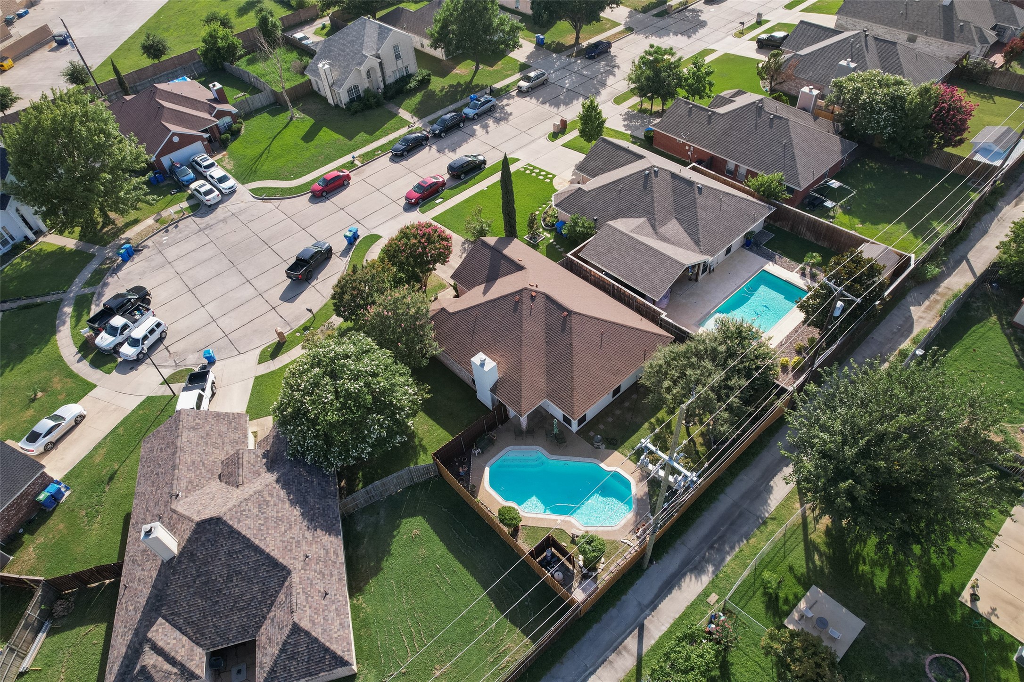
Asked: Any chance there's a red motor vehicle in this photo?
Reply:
Yes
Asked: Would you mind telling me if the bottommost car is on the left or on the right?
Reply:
left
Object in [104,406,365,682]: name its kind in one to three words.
house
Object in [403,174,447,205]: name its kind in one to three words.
car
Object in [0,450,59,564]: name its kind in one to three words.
house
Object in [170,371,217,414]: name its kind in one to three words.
truck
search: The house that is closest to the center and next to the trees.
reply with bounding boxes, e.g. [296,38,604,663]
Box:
[414,236,668,434]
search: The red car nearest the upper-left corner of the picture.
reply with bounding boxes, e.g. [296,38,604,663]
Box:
[308,168,353,197]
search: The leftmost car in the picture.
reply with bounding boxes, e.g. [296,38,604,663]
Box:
[15,401,89,459]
